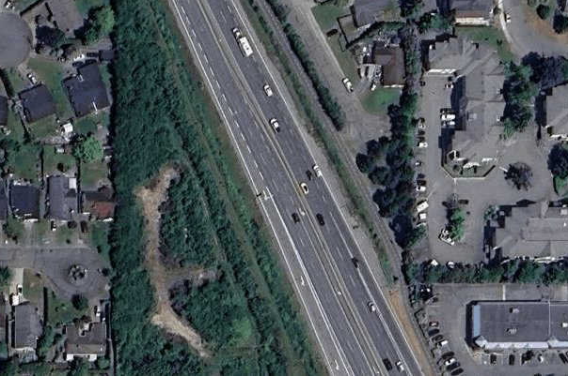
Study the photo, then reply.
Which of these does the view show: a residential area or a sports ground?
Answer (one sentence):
The area seen from above is a residential area.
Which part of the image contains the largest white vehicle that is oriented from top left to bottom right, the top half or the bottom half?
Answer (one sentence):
It is in the top half that the largest white vehicle that is oriented from top left to bottom right appears.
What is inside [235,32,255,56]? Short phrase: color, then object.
white vehicle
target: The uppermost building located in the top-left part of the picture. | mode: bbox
[48,0,85,34]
